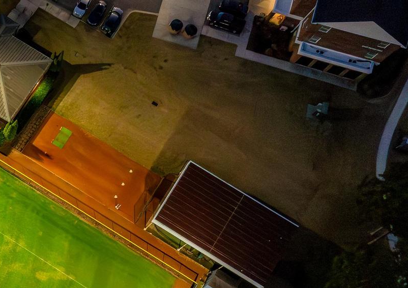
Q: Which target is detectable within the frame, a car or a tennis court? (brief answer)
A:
car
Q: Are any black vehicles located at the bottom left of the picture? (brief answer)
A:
No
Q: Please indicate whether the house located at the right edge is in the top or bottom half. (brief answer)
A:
top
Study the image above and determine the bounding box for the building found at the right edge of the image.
[287,0,408,83]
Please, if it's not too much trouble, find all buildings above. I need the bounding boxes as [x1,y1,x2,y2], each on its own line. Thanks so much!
[0,14,53,123]
[145,161,299,288]
[287,0,408,83]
